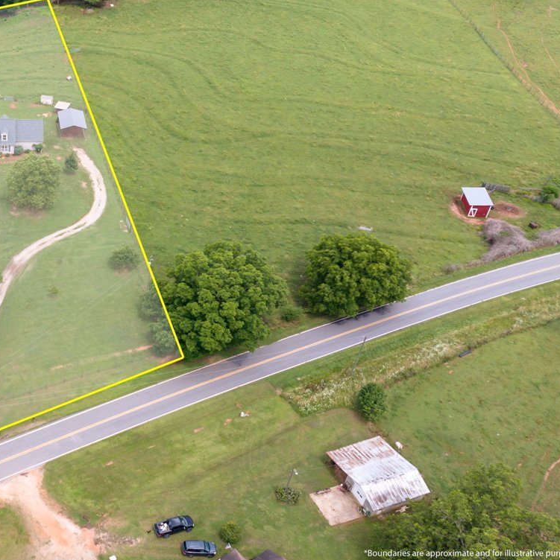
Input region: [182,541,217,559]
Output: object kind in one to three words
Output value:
car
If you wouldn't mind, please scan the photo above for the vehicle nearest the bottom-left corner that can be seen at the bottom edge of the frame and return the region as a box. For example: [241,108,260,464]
[153,516,194,538]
